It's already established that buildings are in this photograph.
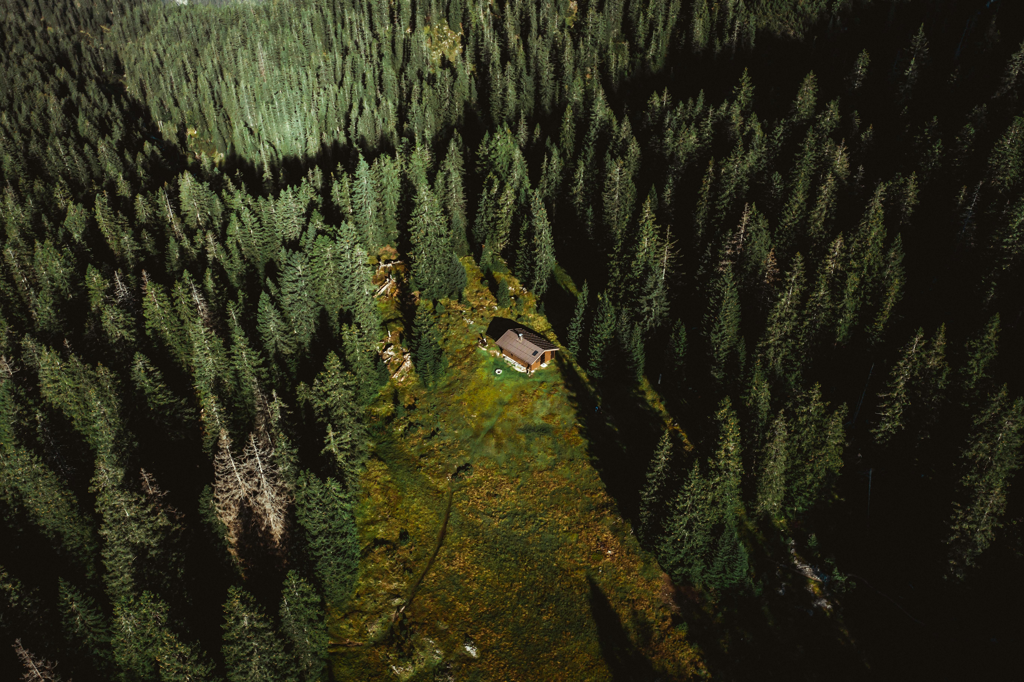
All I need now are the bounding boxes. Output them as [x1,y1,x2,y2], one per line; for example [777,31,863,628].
[494,328,560,374]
